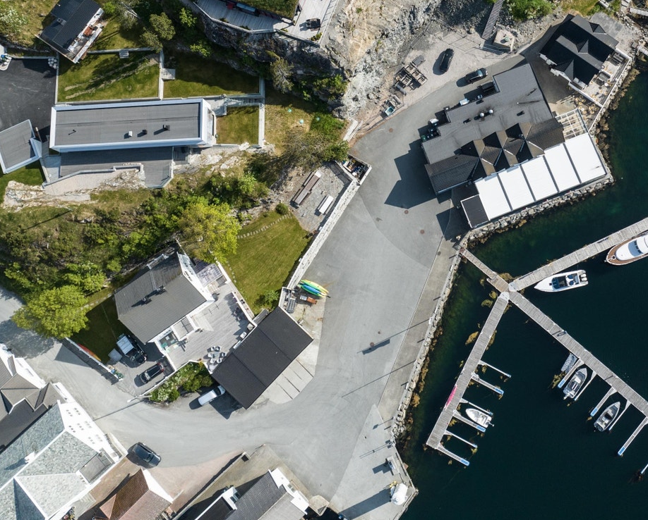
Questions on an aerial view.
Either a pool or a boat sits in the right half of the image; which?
boat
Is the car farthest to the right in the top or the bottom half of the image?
top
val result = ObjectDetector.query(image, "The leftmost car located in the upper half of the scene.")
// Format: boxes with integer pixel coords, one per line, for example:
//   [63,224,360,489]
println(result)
[435,45,457,76]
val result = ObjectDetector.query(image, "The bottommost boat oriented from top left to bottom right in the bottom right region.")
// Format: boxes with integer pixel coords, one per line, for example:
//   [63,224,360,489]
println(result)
[466,409,493,430]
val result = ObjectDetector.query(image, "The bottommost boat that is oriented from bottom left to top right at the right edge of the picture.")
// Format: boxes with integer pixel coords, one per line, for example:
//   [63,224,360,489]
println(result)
[594,402,619,433]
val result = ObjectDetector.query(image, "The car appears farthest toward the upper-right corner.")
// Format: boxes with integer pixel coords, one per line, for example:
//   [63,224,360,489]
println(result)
[461,65,493,85]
